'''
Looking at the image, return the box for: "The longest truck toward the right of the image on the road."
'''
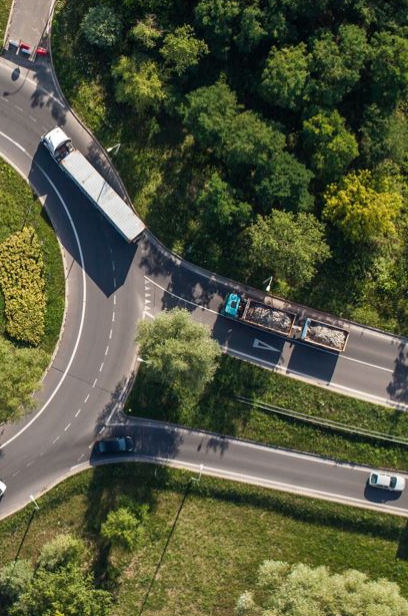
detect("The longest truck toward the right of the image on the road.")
[221,293,350,352]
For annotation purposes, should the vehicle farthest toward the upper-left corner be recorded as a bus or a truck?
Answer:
truck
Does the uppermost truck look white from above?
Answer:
Yes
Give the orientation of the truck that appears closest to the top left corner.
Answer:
diagonally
